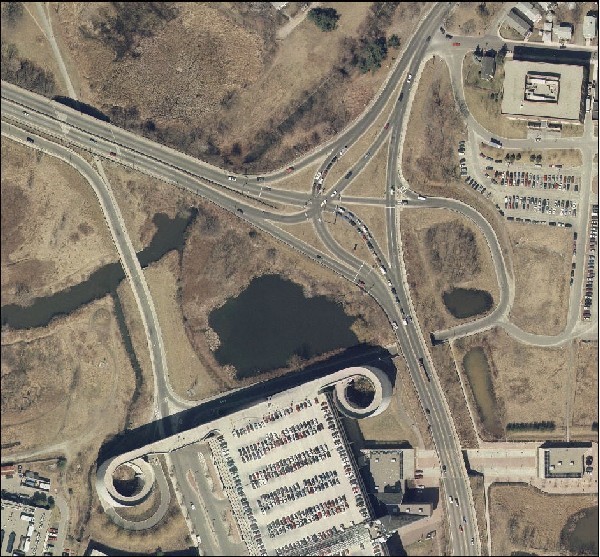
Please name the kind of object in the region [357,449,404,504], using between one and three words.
house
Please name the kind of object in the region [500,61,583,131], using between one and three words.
building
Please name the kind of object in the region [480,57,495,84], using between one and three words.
house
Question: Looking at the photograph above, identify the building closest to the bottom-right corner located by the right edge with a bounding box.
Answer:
[537,447,584,477]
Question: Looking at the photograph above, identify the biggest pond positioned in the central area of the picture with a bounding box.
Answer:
[209,272,357,378]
